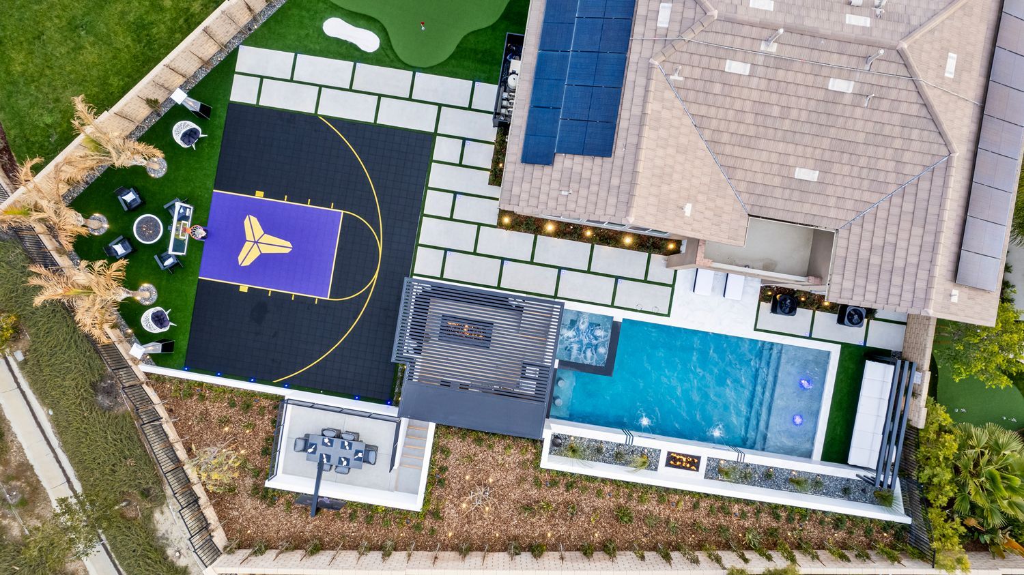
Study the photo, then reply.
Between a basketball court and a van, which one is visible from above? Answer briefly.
basketball court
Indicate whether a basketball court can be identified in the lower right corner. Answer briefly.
No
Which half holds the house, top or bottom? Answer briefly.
top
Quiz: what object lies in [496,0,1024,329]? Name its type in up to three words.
house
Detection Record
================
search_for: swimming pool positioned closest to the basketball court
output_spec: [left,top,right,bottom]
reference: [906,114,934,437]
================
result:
[413,276,842,462]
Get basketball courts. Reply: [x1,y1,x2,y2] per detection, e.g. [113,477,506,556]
[187,103,433,401]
